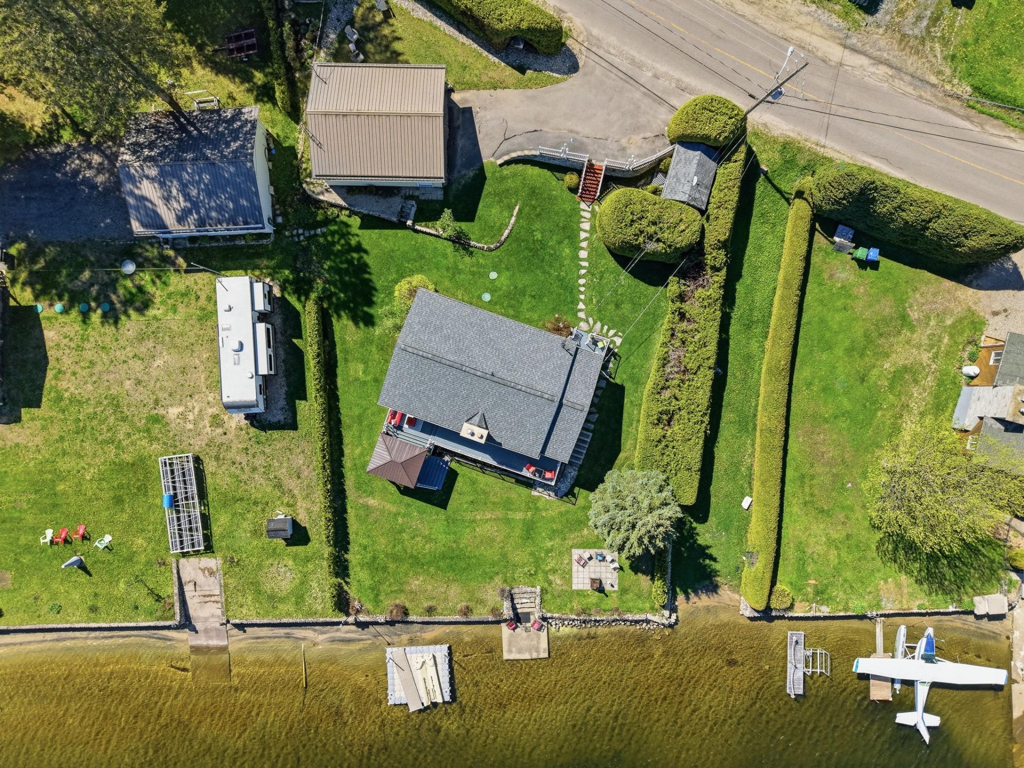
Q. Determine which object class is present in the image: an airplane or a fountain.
airplane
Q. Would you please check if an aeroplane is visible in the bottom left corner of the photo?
No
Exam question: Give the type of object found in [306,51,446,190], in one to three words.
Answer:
building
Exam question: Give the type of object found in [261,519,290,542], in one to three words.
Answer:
shed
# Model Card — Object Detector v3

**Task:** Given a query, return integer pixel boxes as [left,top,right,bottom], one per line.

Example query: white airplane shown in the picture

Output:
[853,614,1007,746]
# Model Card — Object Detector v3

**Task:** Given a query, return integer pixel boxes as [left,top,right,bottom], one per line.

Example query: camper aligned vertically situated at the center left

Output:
[215,276,279,421]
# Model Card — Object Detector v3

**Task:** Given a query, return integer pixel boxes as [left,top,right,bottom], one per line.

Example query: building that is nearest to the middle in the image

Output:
[377,287,612,486]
